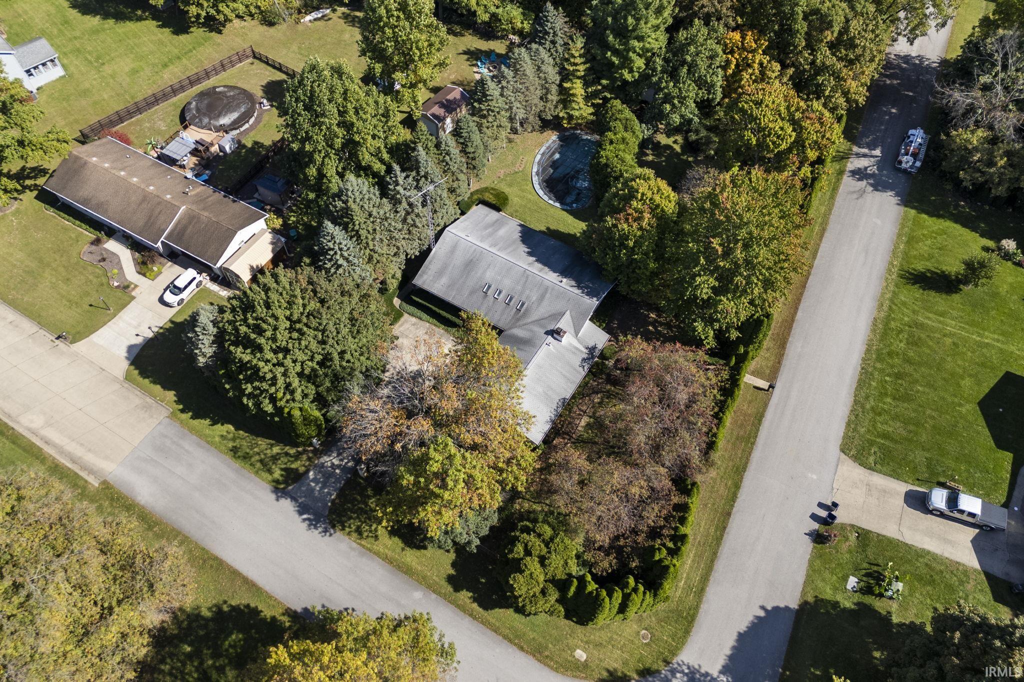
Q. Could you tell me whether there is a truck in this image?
Yes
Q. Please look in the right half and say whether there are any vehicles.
Yes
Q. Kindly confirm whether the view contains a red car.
No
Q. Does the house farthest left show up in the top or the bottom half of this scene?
top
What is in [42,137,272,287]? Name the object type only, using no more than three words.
house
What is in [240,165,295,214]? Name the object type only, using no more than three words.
gazebo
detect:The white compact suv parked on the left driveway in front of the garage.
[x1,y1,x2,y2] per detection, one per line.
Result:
[158,268,204,310]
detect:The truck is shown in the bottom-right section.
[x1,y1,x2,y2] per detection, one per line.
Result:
[926,488,1013,536]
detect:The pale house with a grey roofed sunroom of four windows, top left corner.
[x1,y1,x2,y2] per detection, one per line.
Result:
[0,35,71,94]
